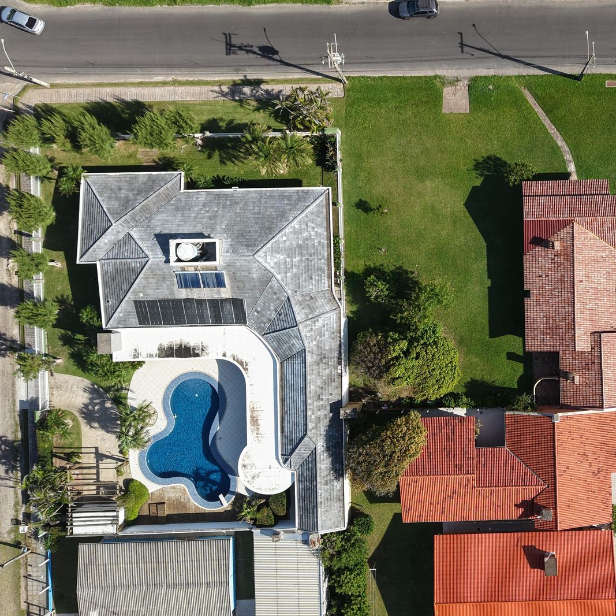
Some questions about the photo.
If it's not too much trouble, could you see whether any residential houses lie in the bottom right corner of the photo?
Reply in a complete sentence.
Yes, there is a residential house in the bottom right corner of the photo.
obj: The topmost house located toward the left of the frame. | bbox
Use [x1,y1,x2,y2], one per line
[77,171,351,536]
